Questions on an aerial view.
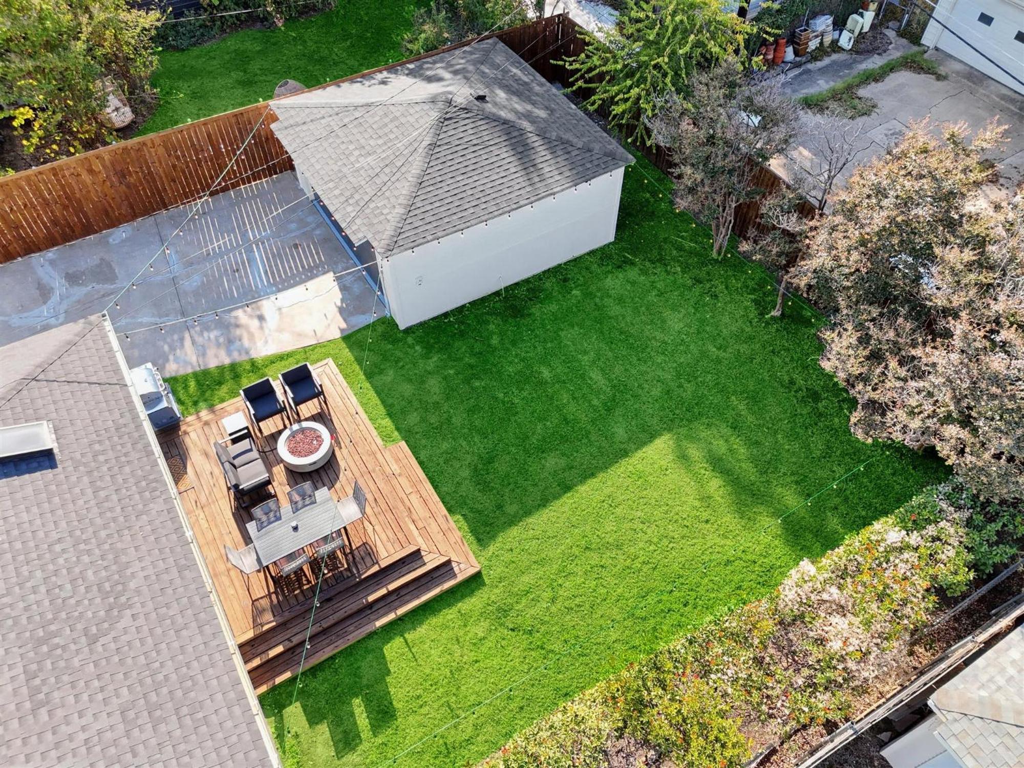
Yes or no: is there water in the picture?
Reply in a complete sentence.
No, the picture contains no water.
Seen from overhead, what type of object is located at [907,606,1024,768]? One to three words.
house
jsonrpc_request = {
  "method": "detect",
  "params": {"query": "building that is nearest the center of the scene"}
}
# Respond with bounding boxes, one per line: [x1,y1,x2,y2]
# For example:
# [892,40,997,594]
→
[267,38,635,329]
